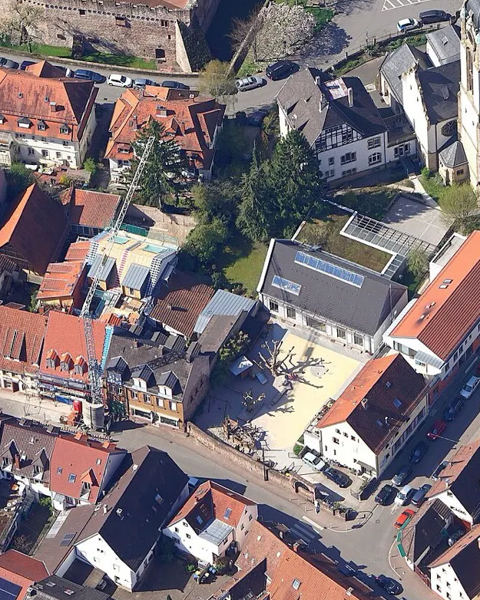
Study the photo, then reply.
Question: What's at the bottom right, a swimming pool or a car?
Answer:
car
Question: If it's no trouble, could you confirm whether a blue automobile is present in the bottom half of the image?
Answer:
Yes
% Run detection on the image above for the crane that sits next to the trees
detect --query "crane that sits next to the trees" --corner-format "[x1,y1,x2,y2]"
[70,137,152,432]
